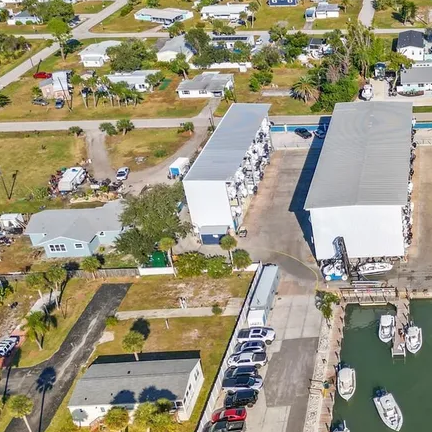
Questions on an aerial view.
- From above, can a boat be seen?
Yes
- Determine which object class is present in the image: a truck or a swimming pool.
truck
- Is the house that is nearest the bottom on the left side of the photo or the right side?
left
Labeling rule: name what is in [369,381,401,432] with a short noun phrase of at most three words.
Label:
boat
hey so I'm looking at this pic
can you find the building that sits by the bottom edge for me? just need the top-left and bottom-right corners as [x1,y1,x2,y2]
[64,358,201,432]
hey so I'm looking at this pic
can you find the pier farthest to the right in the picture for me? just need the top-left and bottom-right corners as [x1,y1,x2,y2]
[392,299,408,360]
